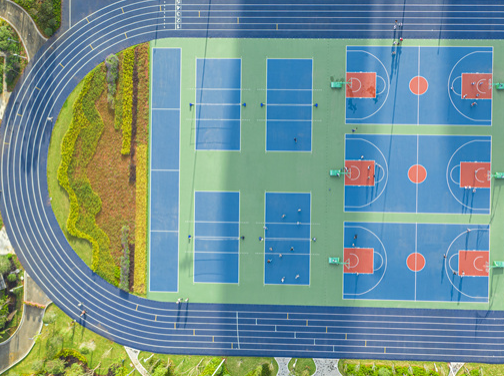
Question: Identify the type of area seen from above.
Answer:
sports ground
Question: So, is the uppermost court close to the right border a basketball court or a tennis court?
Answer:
basketball court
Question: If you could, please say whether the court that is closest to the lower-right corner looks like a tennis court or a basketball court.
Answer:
basketball court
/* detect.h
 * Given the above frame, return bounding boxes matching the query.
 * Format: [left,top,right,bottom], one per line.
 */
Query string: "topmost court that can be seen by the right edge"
[345,46,494,126]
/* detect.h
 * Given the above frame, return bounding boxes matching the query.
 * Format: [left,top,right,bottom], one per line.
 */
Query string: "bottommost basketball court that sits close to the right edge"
[342,221,490,303]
